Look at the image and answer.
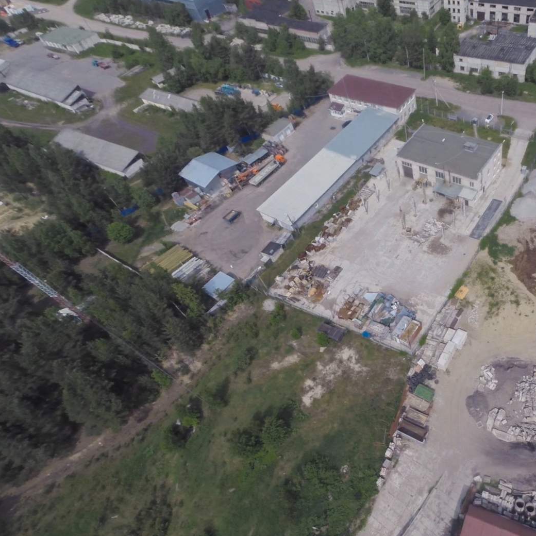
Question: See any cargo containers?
Yes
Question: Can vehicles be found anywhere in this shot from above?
Yes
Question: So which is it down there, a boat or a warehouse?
warehouse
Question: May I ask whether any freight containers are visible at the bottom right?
Yes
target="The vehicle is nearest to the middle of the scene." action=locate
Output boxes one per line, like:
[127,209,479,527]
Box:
[221,209,242,227]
